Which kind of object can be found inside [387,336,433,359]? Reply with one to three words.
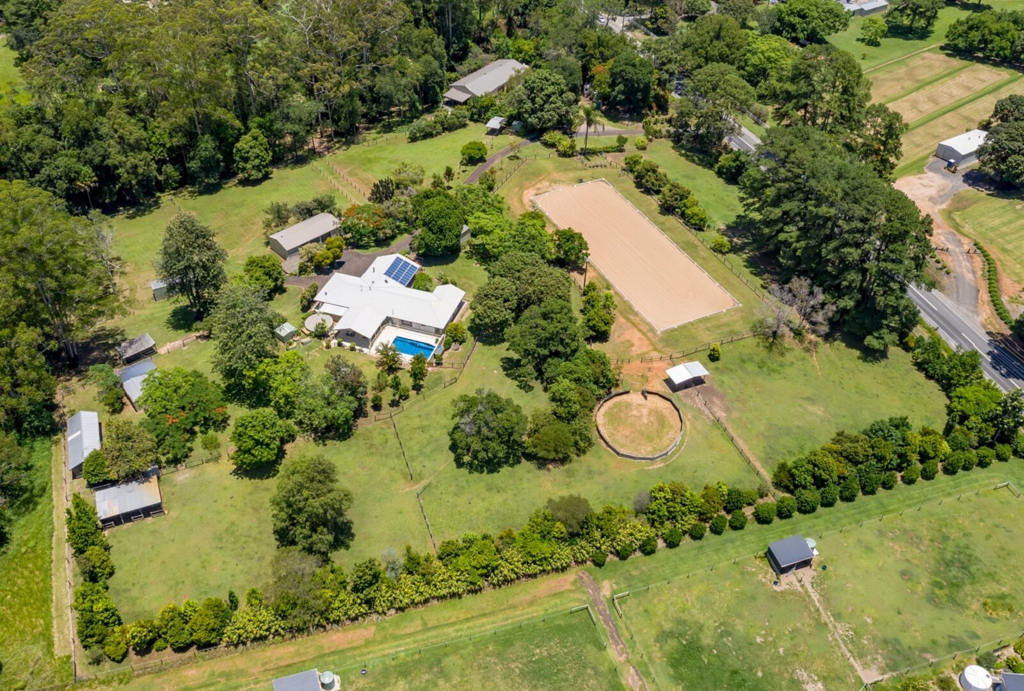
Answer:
swimming pool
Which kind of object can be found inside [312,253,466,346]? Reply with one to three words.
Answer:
house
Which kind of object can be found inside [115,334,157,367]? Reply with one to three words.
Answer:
shed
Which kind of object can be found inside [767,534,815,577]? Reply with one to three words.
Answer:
building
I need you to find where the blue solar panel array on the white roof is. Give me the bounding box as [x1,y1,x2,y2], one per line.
[385,257,418,284]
